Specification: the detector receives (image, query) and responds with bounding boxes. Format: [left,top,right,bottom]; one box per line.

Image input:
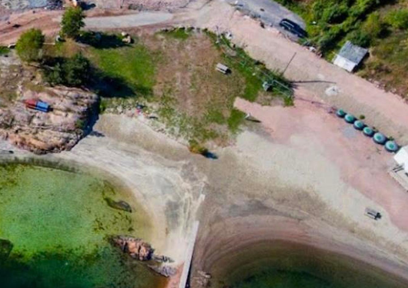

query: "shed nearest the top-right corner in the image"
[329,41,369,79]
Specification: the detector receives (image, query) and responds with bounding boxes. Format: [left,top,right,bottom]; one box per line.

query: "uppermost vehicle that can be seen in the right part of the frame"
[275,13,310,40]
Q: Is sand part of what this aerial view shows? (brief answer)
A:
Yes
